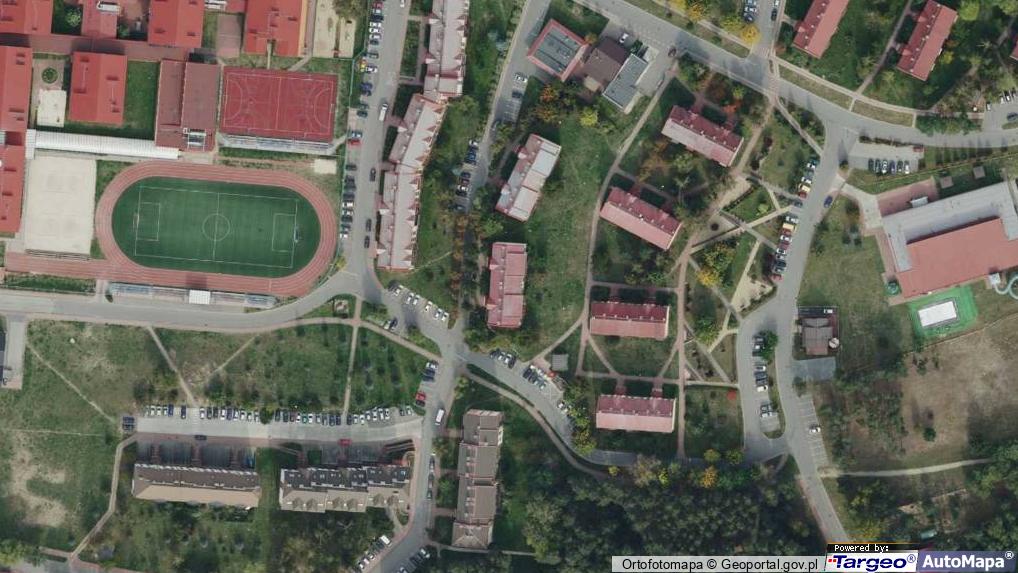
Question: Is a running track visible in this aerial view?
Yes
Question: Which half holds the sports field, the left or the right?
left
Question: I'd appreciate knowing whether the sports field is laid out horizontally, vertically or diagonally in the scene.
horizontally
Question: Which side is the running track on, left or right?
left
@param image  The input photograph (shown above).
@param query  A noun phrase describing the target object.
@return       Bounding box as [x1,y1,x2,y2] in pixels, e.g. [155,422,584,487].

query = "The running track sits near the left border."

[5,160,336,295]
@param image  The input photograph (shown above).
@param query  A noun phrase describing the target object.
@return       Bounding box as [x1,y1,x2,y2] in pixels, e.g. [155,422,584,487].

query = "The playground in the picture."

[733,272,774,309]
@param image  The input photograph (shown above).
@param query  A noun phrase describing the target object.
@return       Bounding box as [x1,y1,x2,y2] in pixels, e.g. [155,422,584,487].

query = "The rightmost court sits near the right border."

[908,285,978,338]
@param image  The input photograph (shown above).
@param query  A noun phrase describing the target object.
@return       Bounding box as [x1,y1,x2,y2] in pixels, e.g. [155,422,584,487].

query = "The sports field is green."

[112,176,321,278]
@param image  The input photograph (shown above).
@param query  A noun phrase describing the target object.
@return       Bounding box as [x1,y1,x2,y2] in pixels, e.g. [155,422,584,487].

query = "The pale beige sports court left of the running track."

[25,154,96,255]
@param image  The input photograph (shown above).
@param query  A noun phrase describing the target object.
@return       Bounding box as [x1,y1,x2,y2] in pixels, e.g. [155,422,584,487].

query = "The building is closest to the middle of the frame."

[487,242,529,327]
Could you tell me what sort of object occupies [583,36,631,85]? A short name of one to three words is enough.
building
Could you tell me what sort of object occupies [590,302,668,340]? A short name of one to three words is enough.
building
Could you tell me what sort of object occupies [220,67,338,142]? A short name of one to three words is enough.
sports court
